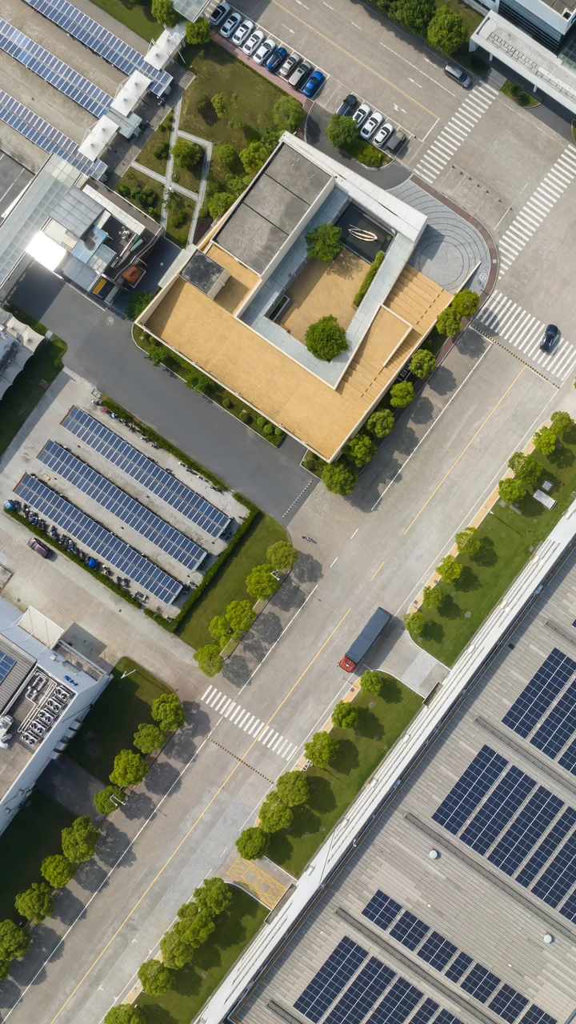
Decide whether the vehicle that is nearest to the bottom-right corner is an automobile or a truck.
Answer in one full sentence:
From above, the vehicle that is nearest to the bottom-right corner can be identified as a truck.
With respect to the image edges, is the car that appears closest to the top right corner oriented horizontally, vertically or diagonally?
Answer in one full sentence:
What the image shows is the car that appears closest to the top right corner lying diagonally.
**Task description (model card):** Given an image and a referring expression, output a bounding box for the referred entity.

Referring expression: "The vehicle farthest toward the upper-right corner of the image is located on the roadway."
[443,64,471,88]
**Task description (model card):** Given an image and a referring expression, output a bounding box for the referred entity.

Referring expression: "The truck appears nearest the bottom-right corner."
[338,604,394,671]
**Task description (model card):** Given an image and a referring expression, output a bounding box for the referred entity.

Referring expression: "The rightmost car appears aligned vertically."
[541,323,557,353]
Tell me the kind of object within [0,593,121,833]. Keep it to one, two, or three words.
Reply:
building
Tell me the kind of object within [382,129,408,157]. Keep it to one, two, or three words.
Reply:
truck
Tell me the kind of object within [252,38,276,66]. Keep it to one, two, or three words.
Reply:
car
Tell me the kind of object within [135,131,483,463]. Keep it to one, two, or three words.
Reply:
building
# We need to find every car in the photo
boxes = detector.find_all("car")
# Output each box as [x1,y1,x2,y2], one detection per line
[208,0,232,28]
[219,11,243,39]
[301,70,326,98]
[371,122,395,149]
[231,19,255,47]
[279,53,300,78]
[252,38,276,66]
[264,45,288,74]
[26,538,51,560]
[361,113,384,141]
[288,60,313,90]
[351,103,373,130]
[541,323,557,353]
[334,92,359,120]
[242,29,266,57]
[443,64,471,88]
